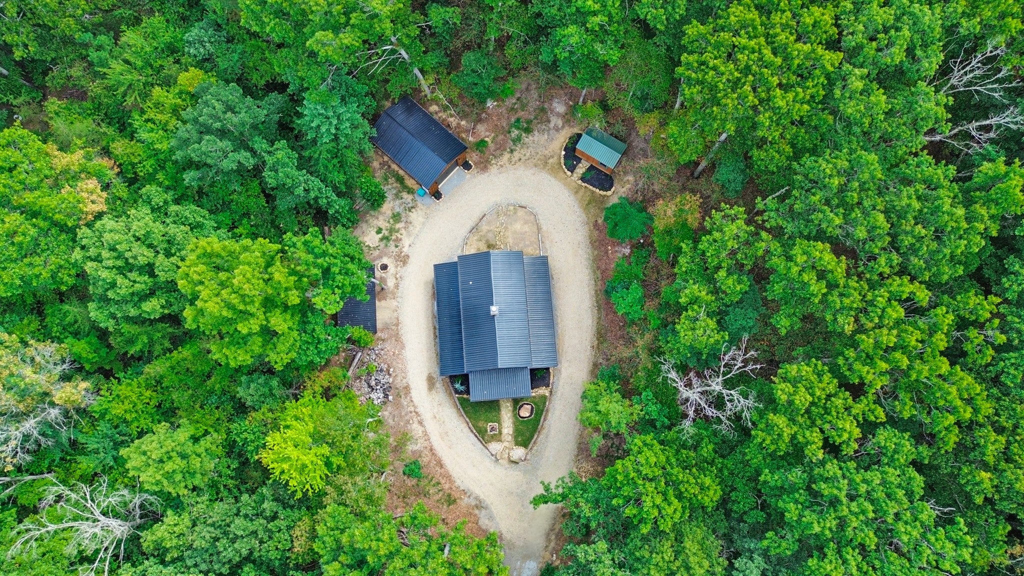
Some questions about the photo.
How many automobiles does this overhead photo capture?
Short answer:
none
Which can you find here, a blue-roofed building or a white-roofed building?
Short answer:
blue-roofed building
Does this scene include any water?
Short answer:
No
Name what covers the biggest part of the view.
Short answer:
trees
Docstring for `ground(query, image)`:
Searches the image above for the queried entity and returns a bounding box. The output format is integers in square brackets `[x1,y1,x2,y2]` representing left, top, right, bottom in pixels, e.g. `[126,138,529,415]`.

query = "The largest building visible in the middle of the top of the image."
[369,96,468,195]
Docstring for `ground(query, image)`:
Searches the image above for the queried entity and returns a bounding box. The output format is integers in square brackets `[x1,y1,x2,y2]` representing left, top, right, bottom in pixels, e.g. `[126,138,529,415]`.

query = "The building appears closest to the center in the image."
[433,250,557,402]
